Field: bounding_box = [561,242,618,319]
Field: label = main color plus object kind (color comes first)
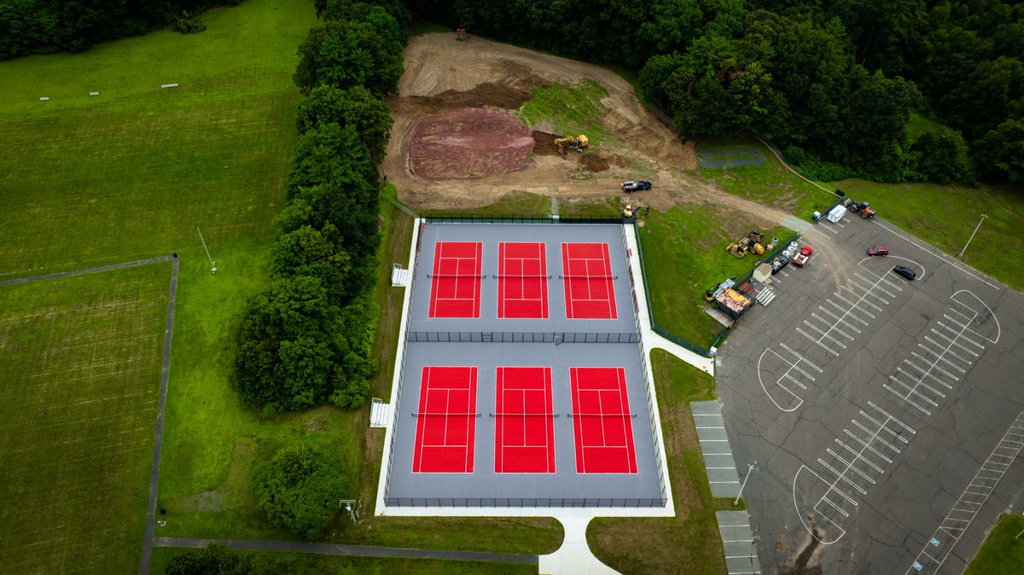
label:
red tennis court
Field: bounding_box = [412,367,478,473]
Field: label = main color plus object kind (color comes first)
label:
red tennis court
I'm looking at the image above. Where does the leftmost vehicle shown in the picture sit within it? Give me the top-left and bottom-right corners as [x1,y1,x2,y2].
[552,137,589,156]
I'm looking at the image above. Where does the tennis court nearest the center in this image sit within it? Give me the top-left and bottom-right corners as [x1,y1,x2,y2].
[497,242,549,318]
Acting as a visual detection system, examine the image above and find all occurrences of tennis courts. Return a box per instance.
[561,242,618,319]
[569,367,638,474]
[494,367,556,473]
[497,242,549,318]
[412,367,478,473]
[428,242,483,318]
